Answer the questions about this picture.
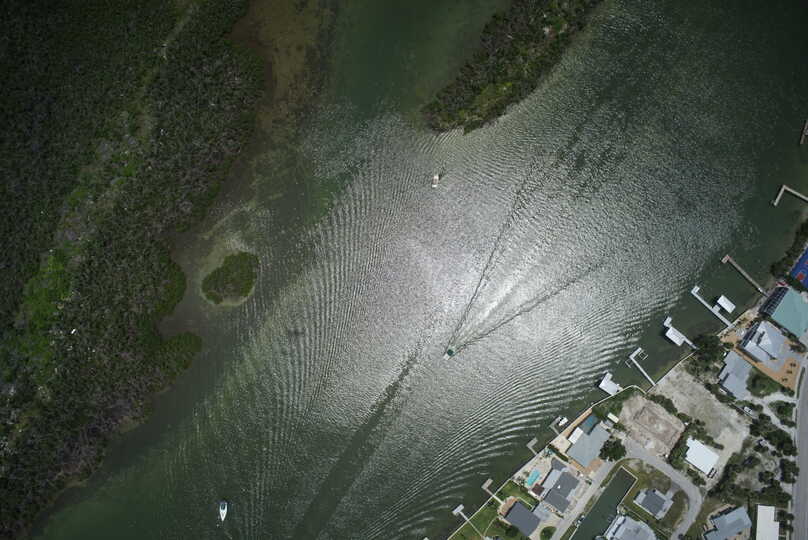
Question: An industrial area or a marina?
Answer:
marina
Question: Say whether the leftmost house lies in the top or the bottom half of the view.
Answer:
bottom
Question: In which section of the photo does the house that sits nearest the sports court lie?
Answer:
right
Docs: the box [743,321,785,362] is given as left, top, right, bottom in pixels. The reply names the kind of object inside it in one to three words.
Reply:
house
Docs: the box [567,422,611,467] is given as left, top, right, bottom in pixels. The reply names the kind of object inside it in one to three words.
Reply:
house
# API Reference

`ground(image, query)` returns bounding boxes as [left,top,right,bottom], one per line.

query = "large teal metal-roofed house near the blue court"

[769,288,808,339]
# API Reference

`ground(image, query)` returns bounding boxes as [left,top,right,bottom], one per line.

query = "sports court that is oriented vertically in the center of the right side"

[787,244,808,290]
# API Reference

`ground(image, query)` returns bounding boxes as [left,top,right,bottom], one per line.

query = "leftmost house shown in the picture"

[505,500,540,535]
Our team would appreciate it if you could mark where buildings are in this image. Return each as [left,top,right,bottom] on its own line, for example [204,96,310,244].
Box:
[769,288,808,339]
[611,516,655,540]
[636,488,665,516]
[754,504,780,540]
[661,317,698,350]
[703,505,750,540]
[743,321,785,362]
[713,294,735,313]
[717,351,752,400]
[505,500,540,535]
[542,457,579,513]
[597,371,624,396]
[684,437,719,474]
[567,422,611,467]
